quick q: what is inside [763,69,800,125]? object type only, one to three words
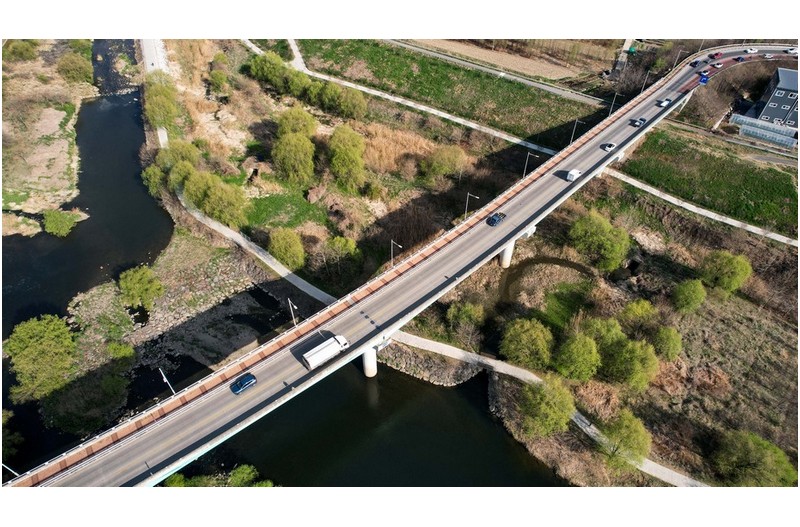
building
